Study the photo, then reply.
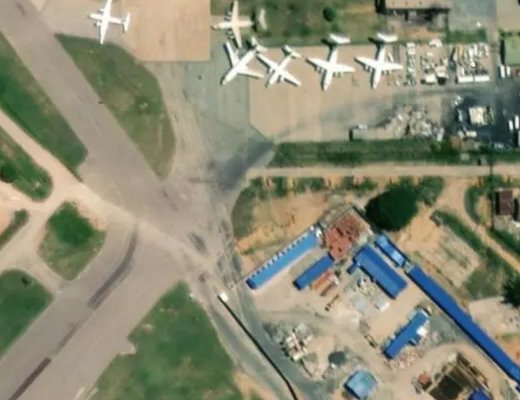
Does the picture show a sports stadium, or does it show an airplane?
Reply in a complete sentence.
It is an airplane that can be seen here.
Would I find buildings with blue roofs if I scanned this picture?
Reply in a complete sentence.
Yes, you can see a building with a blue roof in this photo.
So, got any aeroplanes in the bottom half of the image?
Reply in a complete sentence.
No, the scene shows no aeroplane in the bottom half of the image.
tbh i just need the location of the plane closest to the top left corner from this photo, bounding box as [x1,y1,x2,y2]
[88,0,131,43]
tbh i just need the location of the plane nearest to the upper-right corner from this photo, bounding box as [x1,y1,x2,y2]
[356,27,405,88]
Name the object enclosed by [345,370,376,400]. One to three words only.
shed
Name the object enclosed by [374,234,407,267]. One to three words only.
building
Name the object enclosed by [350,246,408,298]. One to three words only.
building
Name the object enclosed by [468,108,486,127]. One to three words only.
shed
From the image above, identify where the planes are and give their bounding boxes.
[222,35,270,83]
[257,44,301,87]
[308,28,357,89]
[88,0,131,43]
[356,27,405,88]
[212,1,261,48]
